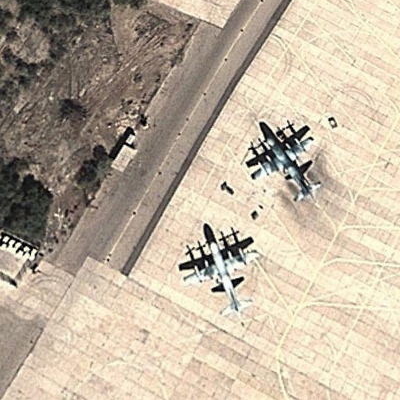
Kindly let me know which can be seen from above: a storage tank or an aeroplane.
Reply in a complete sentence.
Visible in the photo is an aeroplane.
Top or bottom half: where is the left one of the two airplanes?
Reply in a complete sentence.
It is in the bottom half that the left one of the two airplanes appears.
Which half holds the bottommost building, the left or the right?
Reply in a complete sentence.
The bottommost building appears in the left half of the scene.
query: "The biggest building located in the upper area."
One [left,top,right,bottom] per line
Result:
[112,144,137,171]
